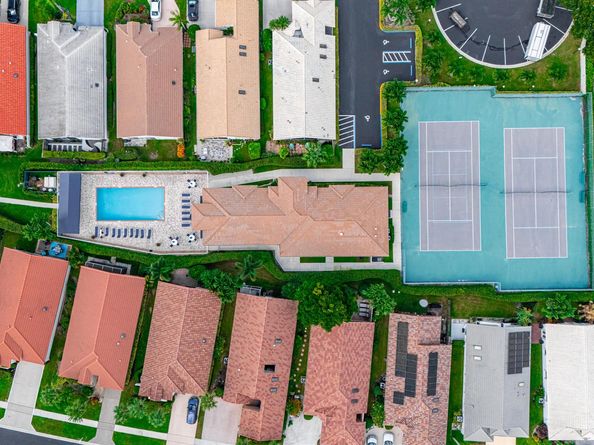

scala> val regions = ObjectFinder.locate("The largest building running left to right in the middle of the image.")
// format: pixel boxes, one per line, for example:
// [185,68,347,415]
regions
[191,176,390,258]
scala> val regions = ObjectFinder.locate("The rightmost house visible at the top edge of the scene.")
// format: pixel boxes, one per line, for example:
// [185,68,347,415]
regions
[273,1,336,139]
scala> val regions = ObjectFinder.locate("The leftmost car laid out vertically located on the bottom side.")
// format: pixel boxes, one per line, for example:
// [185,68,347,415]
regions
[186,396,200,424]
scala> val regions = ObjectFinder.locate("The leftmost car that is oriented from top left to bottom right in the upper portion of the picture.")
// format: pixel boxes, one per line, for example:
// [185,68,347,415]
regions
[449,8,472,34]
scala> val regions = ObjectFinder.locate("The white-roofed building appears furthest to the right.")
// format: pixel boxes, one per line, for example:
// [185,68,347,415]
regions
[541,323,594,442]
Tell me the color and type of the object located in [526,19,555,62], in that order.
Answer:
white trailer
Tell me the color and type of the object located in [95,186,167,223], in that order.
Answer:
blue swimming pool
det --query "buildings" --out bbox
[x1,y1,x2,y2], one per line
[273,1,336,139]
[116,20,184,138]
[0,248,72,369]
[195,0,260,138]
[58,173,85,234]
[223,293,297,439]
[303,322,375,445]
[59,266,147,390]
[140,281,221,402]
[191,176,390,258]
[461,323,531,442]
[384,314,452,445]
[0,22,31,136]
[541,323,594,442]
[37,20,110,139]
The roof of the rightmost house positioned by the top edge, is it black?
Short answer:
No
